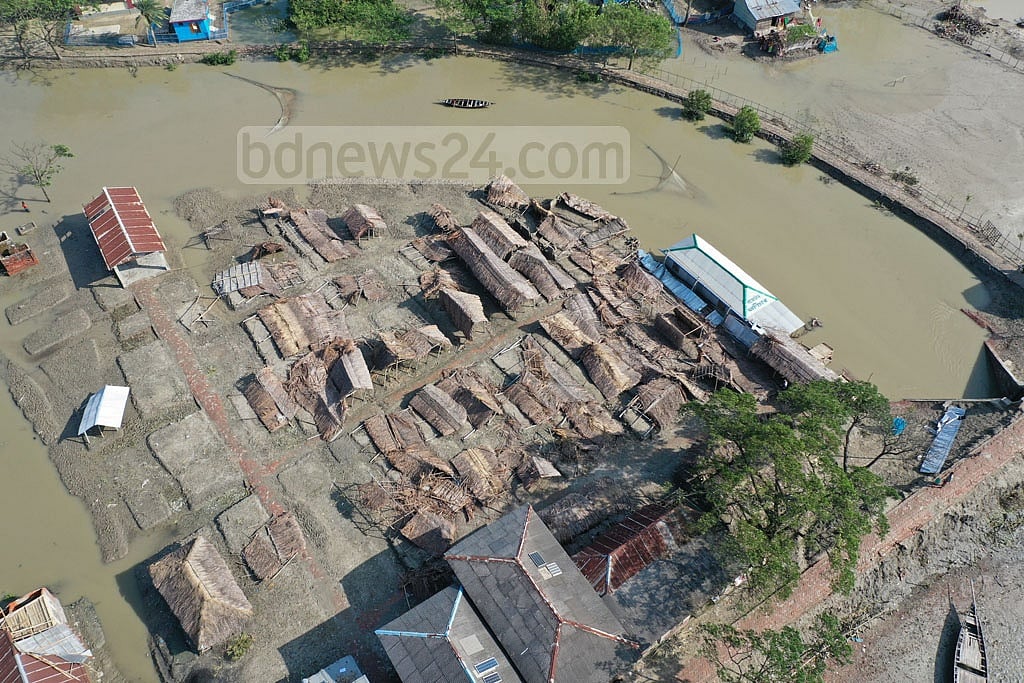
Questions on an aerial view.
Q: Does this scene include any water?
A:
Yes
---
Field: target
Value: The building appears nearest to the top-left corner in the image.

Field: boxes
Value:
[170,0,214,43]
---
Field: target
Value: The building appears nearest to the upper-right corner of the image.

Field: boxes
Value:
[727,0,801,37]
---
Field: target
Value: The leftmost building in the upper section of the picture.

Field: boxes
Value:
[82,186,170,288]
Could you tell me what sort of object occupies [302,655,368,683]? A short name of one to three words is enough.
shed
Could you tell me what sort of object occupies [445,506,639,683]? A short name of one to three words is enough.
building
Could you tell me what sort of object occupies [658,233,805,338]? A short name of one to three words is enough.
building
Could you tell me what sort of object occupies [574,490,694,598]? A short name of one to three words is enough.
house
